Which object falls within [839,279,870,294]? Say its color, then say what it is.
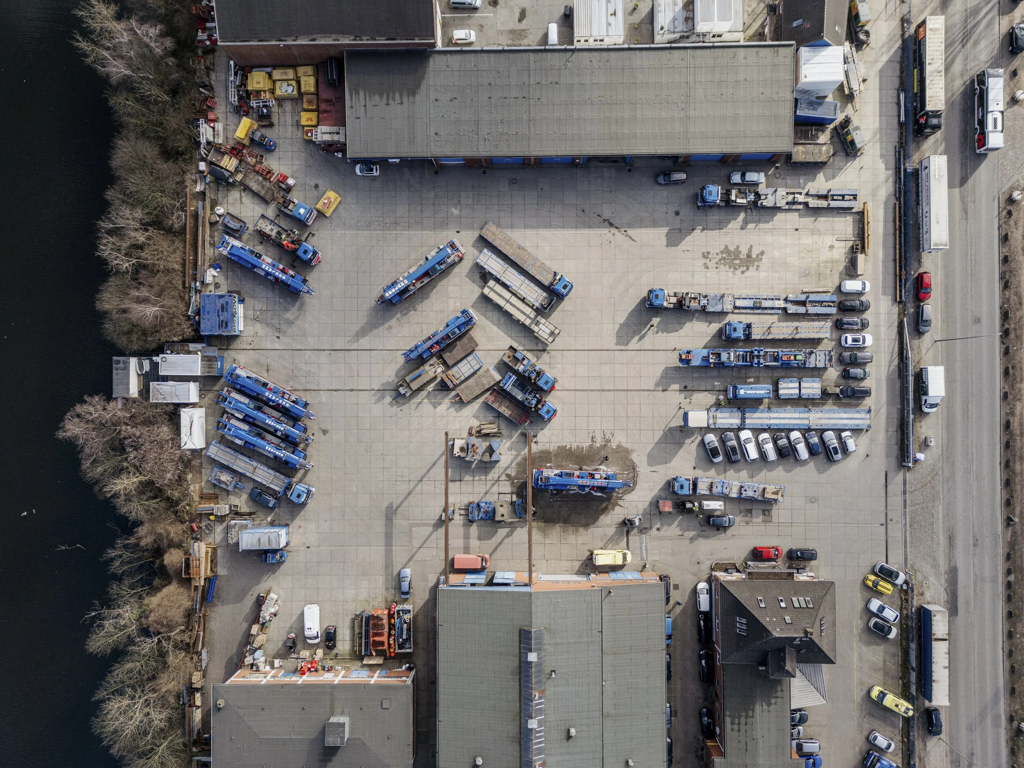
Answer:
white vehicle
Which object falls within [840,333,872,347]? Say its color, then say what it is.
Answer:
white car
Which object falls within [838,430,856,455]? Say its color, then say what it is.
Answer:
white car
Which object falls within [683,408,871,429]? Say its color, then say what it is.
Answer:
white trailer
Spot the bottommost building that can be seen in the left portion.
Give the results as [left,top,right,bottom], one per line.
[211,670,414,768]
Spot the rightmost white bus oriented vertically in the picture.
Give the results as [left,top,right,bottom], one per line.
[975,68,1004,153]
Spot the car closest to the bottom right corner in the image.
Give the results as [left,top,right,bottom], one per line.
[926,705,945,736]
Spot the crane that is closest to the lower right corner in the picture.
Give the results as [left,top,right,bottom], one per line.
[532,469,633,494]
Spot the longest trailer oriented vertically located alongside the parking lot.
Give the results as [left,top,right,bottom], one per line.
[918,604,950,705]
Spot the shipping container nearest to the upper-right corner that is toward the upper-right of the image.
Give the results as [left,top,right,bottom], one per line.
[795,99,839,125]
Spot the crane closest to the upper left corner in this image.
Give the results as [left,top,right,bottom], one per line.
[216,232,315,295]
